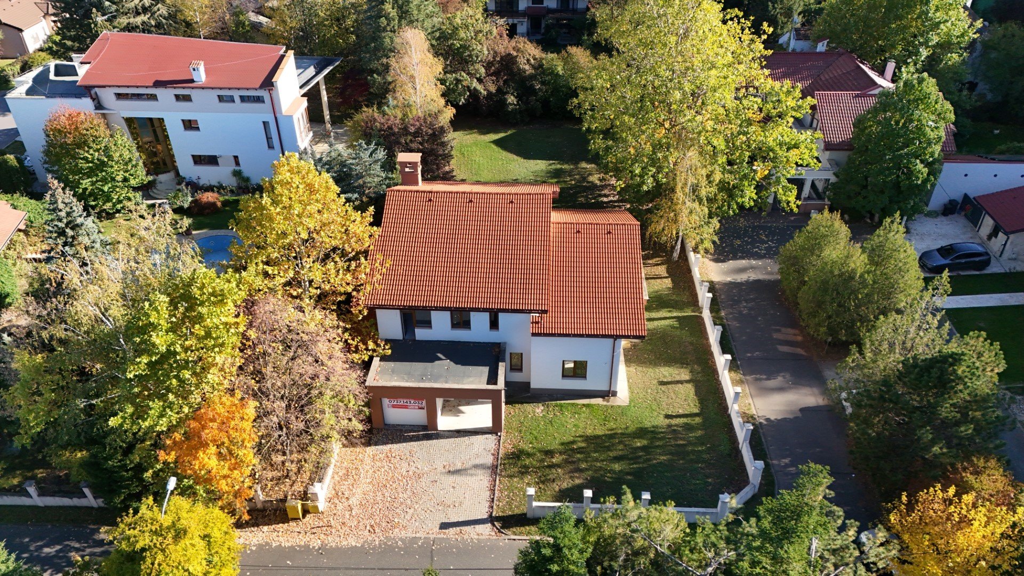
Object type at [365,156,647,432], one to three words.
house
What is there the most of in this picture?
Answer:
trees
